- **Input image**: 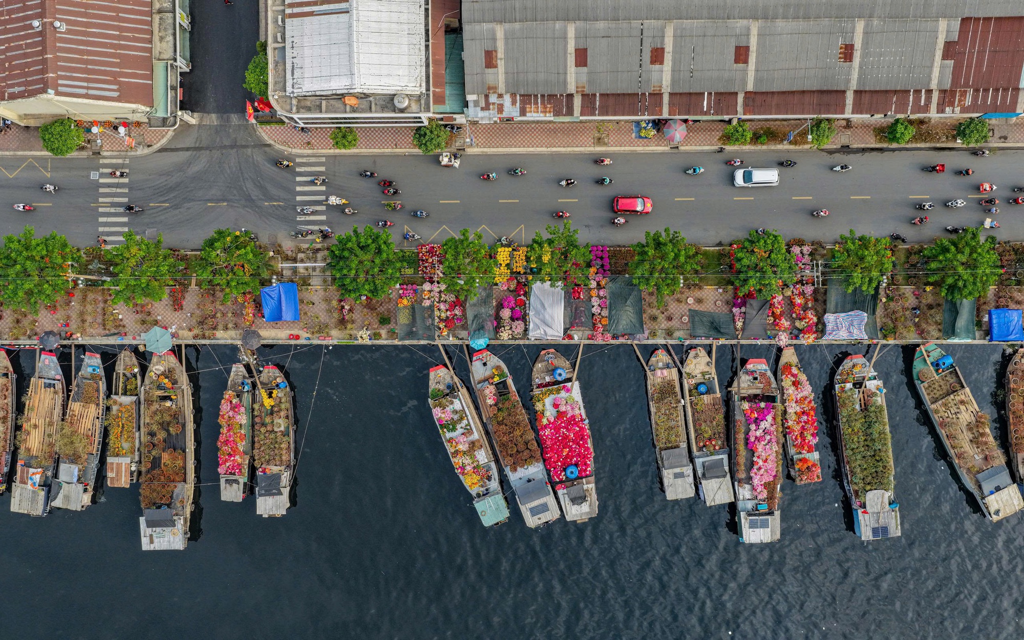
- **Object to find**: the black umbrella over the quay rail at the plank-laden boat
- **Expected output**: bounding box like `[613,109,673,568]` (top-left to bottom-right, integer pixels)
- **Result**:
[42,330,62,350]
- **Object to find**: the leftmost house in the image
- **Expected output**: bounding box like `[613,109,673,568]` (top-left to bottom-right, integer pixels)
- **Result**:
[0,0,158,124]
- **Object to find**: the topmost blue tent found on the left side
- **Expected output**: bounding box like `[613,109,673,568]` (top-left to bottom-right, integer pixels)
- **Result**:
[261,283,302,321]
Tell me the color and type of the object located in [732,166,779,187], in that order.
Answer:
white car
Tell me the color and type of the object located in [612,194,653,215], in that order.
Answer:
red car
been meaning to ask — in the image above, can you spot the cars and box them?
[732,166,779,187]
[612,194,653,215]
